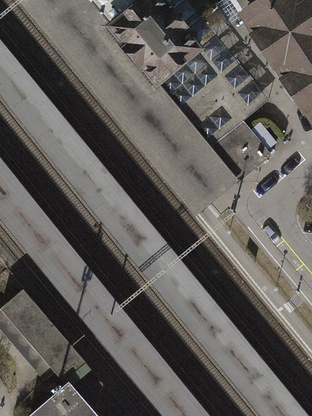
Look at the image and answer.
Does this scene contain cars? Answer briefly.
Yes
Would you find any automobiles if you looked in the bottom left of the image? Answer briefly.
No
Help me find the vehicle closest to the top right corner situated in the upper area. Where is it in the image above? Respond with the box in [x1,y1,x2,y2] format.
[297,112,312,130]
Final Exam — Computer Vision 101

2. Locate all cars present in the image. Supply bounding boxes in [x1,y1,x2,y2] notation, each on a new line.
[262,222,282,244]
[256,174,278,194]
[297,112,312,130]
[281,153,302,172]
[302,224,312,233]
